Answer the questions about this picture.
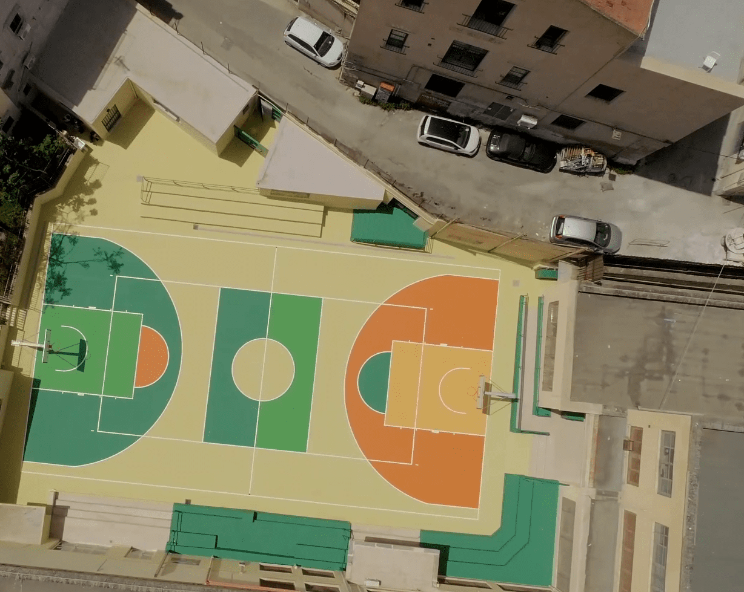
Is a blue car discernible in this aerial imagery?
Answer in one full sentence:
No, there appears to be no blue car in this shot.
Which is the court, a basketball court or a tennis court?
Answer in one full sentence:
In the photo, the court shows up as a basketball court.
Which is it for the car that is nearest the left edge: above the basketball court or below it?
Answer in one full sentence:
In the image, the car that is nearest the left edge sits above the basketball court.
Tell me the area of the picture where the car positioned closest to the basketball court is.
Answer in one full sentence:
The car positioned closest to the basketball court is located in the right region of the scene.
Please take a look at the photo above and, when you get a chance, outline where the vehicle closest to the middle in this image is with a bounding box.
[417,118,480,158]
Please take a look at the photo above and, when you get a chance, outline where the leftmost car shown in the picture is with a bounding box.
[283,18,344,69]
